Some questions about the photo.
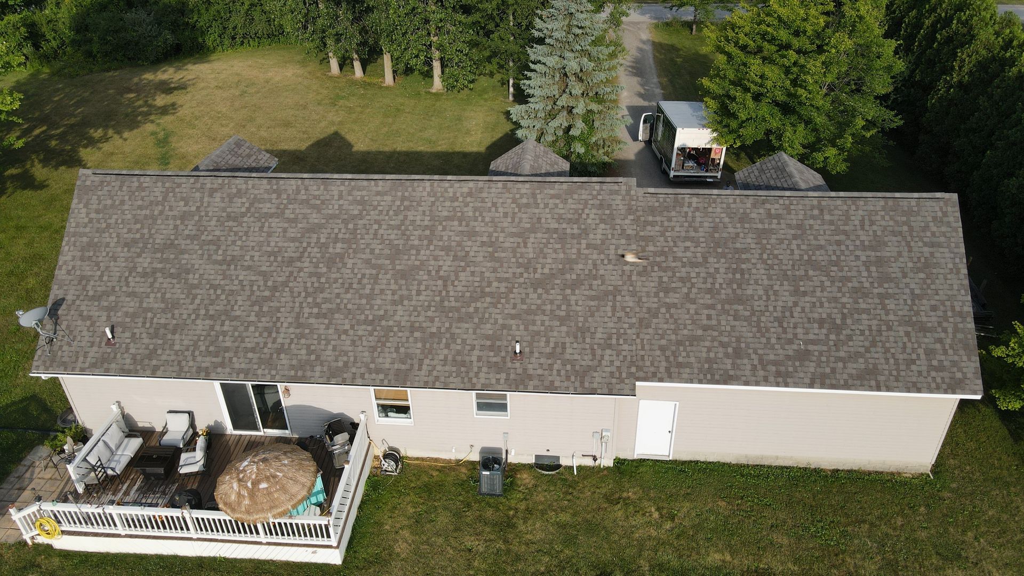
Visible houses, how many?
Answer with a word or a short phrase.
1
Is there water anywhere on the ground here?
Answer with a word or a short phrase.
No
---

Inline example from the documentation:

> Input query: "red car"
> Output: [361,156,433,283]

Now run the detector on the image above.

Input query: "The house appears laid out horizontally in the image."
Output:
[28,135,983,478]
